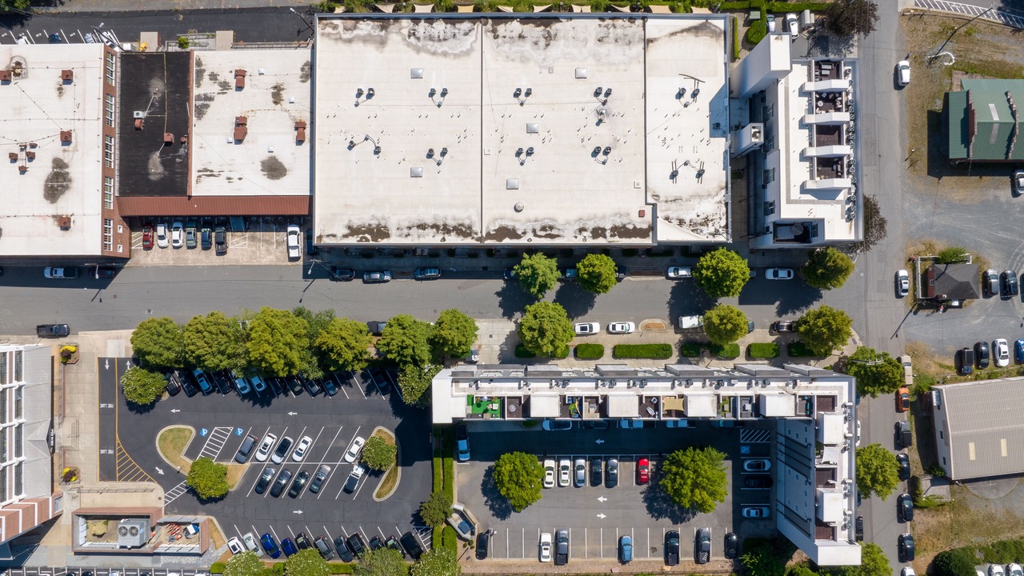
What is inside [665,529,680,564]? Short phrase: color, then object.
black vehicle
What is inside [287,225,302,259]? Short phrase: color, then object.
white vehicle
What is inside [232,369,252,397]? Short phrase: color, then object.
blue car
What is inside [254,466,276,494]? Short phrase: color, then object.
black car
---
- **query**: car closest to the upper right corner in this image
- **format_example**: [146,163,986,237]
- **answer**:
[896,60,912,88]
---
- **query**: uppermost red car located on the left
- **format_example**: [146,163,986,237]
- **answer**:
[140,222,156,250]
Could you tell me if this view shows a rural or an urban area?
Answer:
urban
